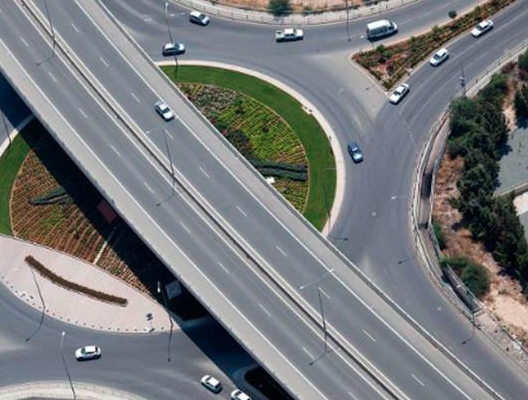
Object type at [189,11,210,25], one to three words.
car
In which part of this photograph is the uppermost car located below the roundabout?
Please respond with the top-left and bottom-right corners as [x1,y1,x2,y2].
[76,346,100,360]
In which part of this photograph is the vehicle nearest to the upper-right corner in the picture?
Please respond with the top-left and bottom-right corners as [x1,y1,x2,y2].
[470,21,494,37]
